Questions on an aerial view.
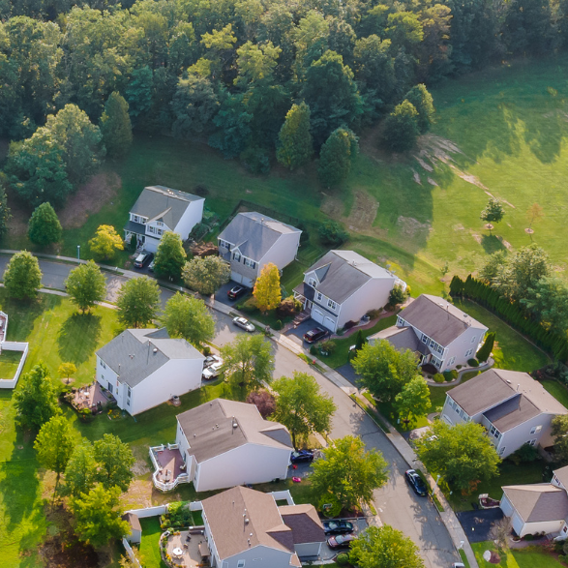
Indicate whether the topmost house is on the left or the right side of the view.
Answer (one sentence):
You can find the topmost house on the left side of the picture.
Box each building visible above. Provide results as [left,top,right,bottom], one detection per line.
[211,211,302,287]
[441,367,568,459]
[118,520,145,551]
[95,326,206,417]
[151,397,294,494]
[194,485,326,568]
[122,176,203,246]
[499,450,568,534]
[366,293,488,375]
[291,250,395,331]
